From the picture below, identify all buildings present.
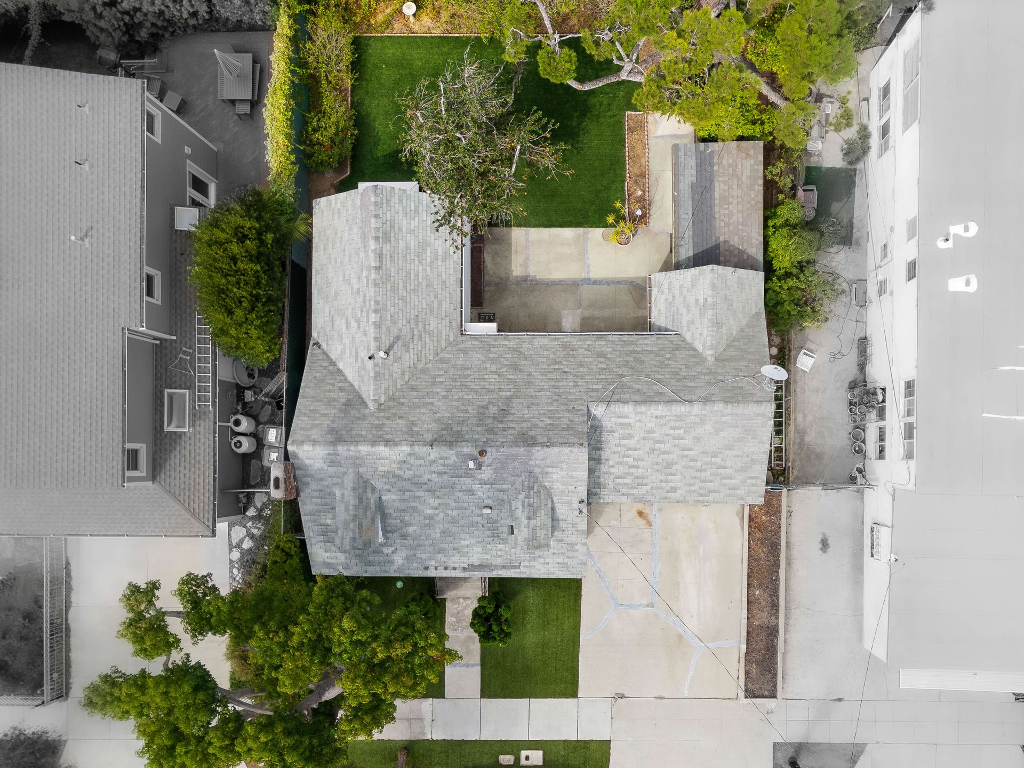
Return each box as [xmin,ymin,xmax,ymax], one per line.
[864,1,1024,664]
[0,62,243,539]
[286,185,775,577]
